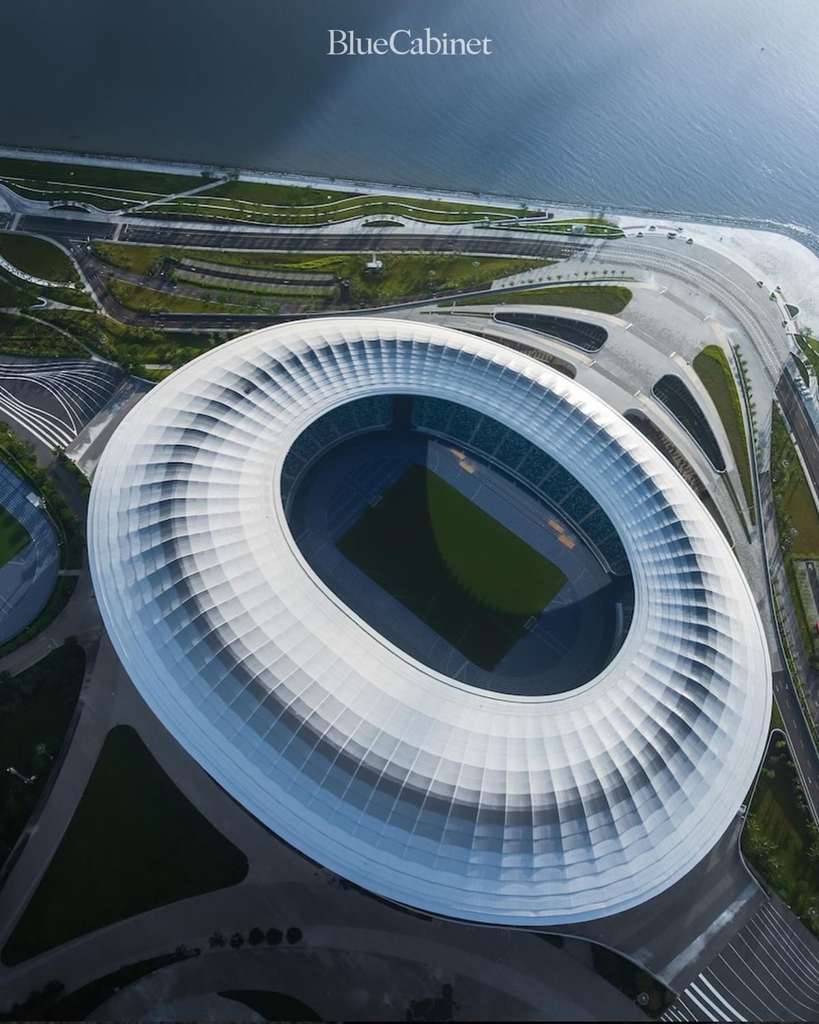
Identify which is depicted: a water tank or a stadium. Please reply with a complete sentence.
I can see a stadium in this picture.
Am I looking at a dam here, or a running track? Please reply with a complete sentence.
The one in the frame is a running track.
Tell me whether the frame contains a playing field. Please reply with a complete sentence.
Yes, a playing field can be made out from above.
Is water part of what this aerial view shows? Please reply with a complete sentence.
Yes, water can be seen from above here.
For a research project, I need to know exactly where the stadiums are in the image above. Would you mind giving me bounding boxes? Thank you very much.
[86,316,772,928]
